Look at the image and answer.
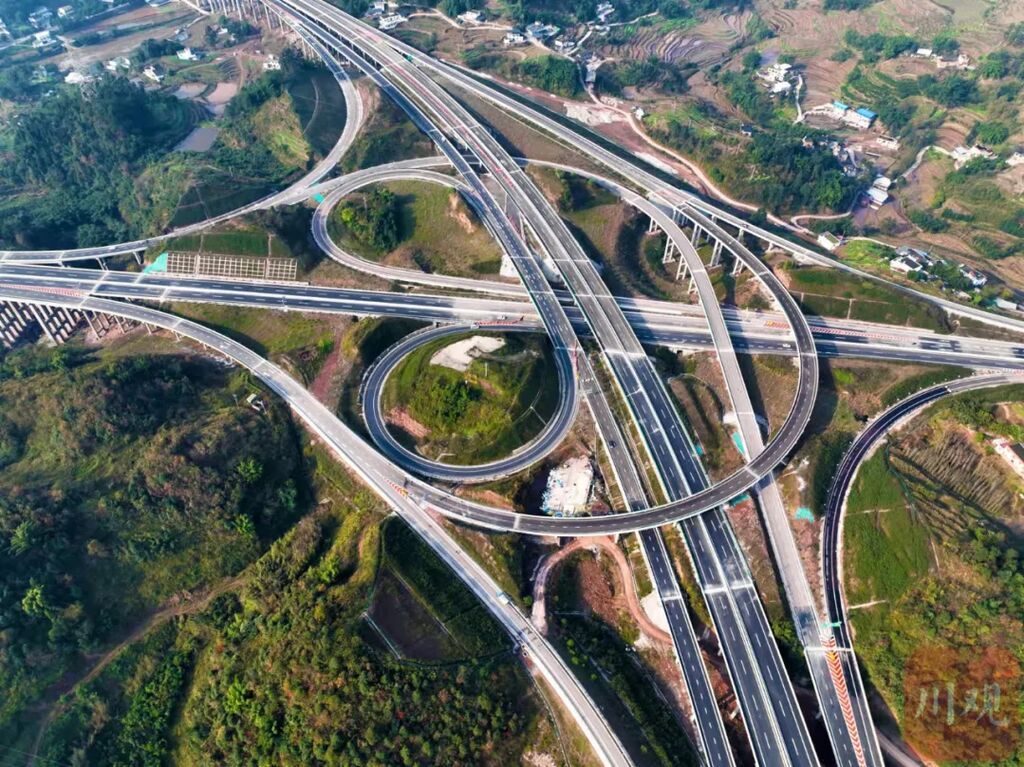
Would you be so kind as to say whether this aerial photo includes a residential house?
Yes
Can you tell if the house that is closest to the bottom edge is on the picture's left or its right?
right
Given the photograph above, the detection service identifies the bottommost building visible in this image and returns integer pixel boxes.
[994,434,1024,464]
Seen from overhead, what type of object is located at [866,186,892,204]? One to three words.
house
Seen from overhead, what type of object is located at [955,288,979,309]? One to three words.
house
